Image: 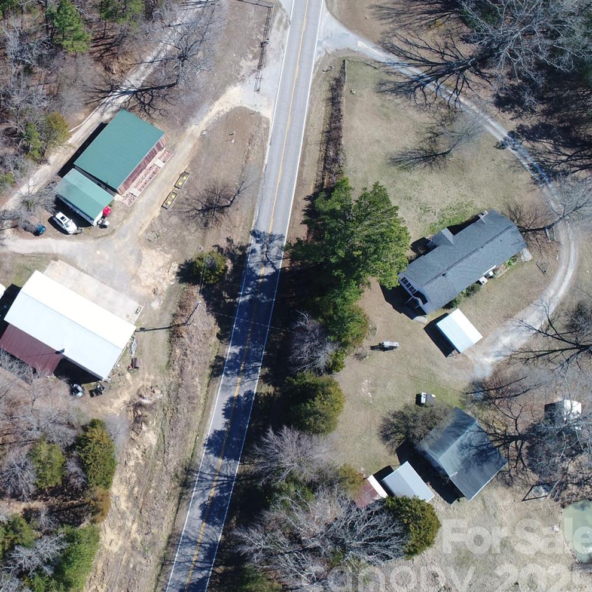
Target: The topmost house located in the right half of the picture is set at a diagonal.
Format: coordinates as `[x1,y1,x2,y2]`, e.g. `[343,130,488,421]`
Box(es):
[389,209,526,318]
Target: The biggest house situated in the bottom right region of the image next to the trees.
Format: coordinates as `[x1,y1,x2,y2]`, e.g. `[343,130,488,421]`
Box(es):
[410,409,507,501]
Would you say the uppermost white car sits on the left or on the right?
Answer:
left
